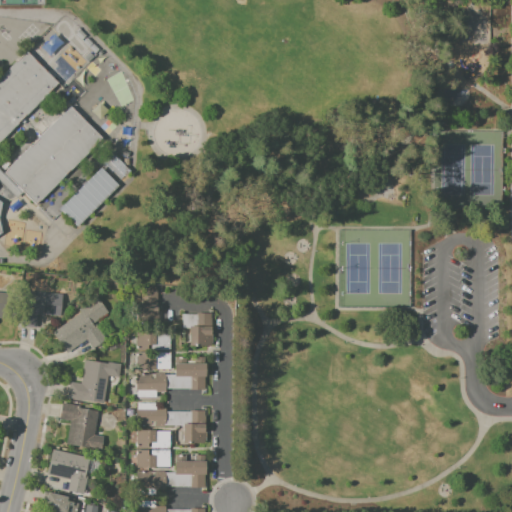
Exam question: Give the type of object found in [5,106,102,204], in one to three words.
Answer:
building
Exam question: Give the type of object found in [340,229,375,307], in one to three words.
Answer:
tennis court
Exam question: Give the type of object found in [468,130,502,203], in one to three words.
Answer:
tennis court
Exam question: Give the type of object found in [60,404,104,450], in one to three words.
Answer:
house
